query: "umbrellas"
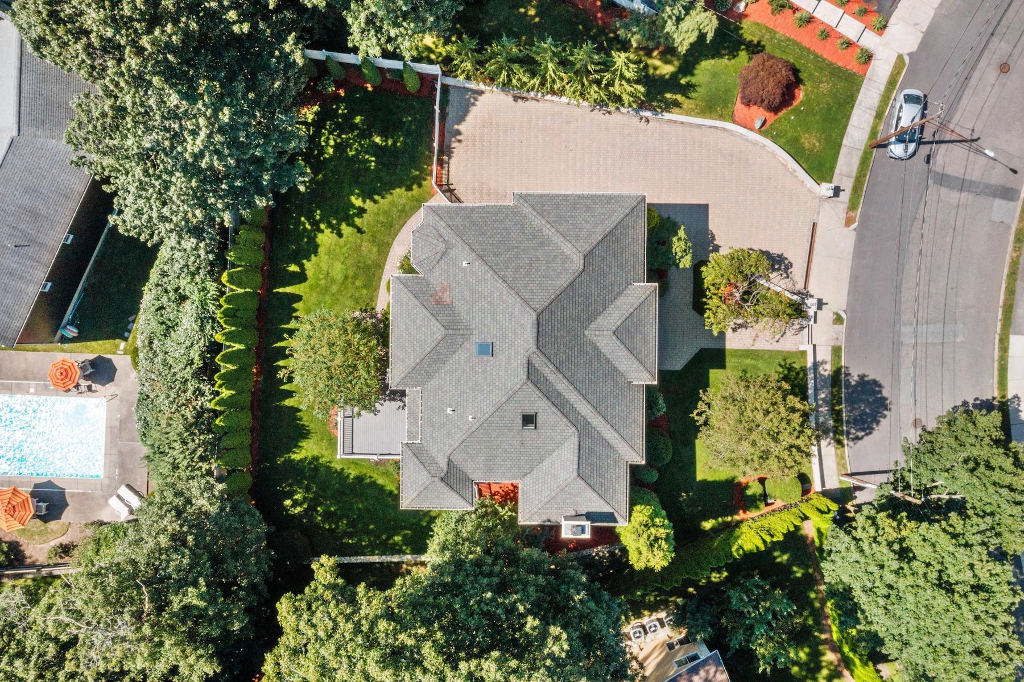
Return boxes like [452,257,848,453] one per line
[0,485,38,530]
[49,357,83,390]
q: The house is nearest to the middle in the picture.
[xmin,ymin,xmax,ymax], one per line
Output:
[388,190,660,538]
